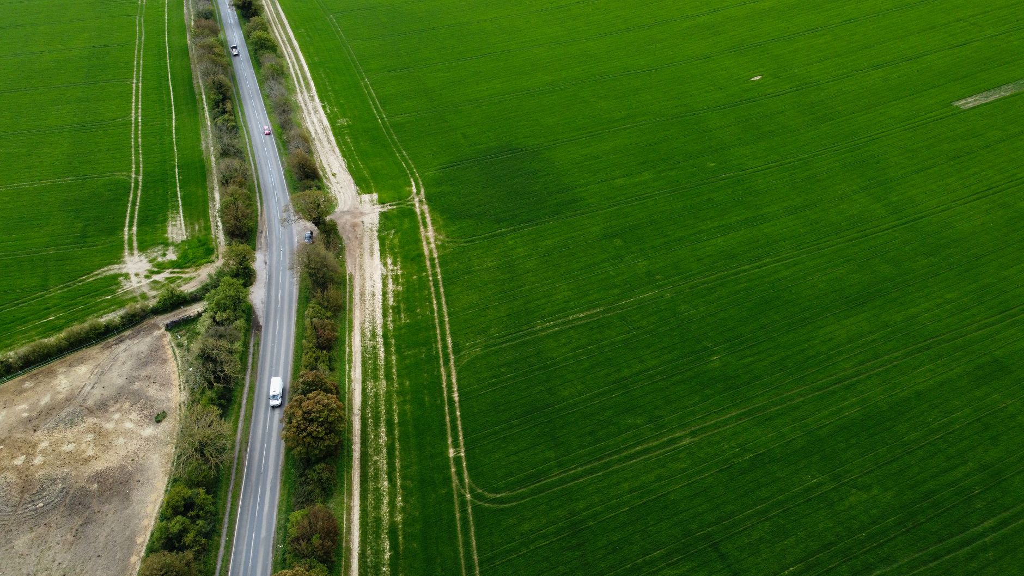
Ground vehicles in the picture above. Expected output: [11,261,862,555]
[267,376,282,407]
[232,47,239,55]
[304,231,312,243]
[262,125,269,134]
